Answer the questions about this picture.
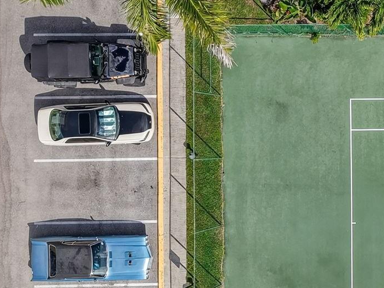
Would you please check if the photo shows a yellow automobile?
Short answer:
No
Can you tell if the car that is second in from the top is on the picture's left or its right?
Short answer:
left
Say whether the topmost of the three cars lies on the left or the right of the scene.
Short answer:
left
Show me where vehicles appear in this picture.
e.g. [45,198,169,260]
[22,38,146,86]
[30,233,158,286]
[35,95,156,150]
